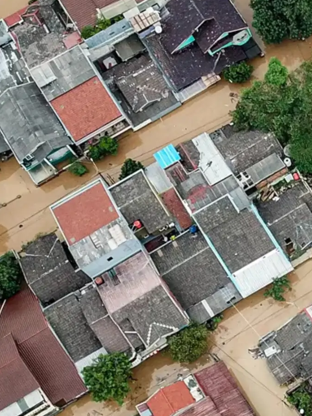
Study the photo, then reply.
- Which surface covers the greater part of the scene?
buildings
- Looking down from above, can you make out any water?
Yes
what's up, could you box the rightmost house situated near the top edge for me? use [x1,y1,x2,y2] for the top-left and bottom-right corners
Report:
[146,0,266,112]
